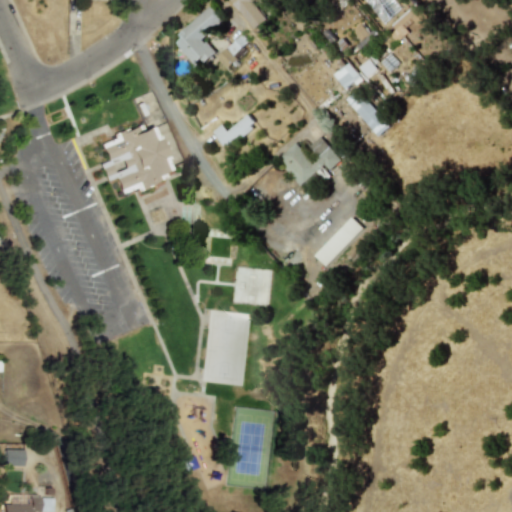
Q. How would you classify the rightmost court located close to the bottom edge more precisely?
tennis court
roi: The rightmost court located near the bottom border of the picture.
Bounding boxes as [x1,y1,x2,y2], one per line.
[228,407,275,486]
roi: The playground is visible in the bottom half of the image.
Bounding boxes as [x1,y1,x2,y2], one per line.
[170,386,230,489]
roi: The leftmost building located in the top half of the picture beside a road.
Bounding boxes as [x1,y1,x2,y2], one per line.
[102,122,182,194]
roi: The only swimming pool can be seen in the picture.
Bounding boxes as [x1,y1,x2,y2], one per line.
[176,60,190,75]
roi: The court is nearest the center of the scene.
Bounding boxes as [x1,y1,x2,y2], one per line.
[234,266,272,306]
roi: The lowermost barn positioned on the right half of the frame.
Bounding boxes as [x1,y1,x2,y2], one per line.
[314,216,365,266]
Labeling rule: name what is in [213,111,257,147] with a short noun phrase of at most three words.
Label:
house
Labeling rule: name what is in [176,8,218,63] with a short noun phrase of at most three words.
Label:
house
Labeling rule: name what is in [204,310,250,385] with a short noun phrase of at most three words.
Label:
sports court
